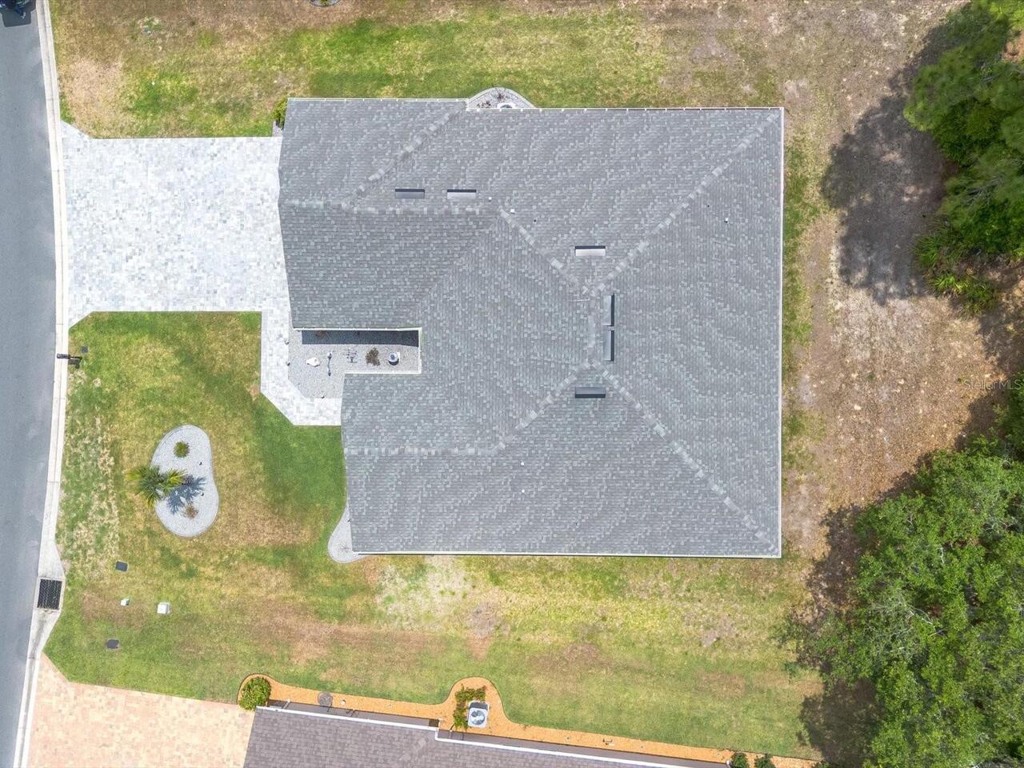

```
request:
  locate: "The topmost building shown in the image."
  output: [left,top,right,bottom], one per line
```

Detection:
[273,95,786,560]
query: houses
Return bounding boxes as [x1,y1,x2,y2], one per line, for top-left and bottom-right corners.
[242,697,731,768]
[273,95,786,560]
